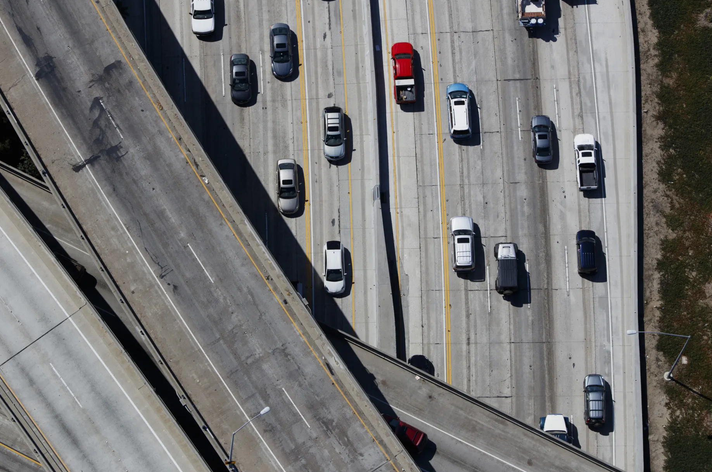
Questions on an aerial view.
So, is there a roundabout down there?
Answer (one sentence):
No, no roundabout can be seen from above.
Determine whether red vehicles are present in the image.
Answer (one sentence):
Yes, a red vehicle appears in the view.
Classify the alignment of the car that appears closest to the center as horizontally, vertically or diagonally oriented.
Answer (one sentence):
Seen from above, the car that appears closest to the center lies vertically.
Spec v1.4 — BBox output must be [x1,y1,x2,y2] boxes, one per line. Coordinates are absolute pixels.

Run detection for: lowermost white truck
[541,413,573,444]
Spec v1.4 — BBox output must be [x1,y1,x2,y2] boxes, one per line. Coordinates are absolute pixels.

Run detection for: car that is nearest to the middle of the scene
[322,242,348,295]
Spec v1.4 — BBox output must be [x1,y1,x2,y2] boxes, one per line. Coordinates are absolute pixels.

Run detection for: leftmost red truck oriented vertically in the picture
[390,42,418,106]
